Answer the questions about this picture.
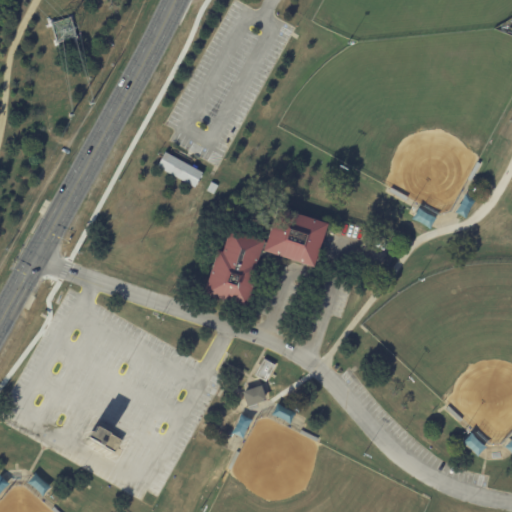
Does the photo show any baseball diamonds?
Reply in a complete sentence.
Yes, looking at the shot, I can spot a baseball diamond.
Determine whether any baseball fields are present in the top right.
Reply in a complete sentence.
Yes, a baseball field can be seen in the top right.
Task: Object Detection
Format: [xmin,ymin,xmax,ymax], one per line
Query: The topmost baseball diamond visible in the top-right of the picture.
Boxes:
[314,0,512,41]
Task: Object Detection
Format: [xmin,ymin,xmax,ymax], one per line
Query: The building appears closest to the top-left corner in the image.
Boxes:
[160,153,202,188]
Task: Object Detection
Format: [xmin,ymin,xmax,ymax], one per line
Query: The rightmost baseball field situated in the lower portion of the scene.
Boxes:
[364,263,512,442]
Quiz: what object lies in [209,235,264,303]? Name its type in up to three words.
building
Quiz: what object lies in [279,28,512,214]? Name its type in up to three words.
baseball field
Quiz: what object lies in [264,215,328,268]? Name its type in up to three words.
building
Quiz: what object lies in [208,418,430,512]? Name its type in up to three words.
baseball field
